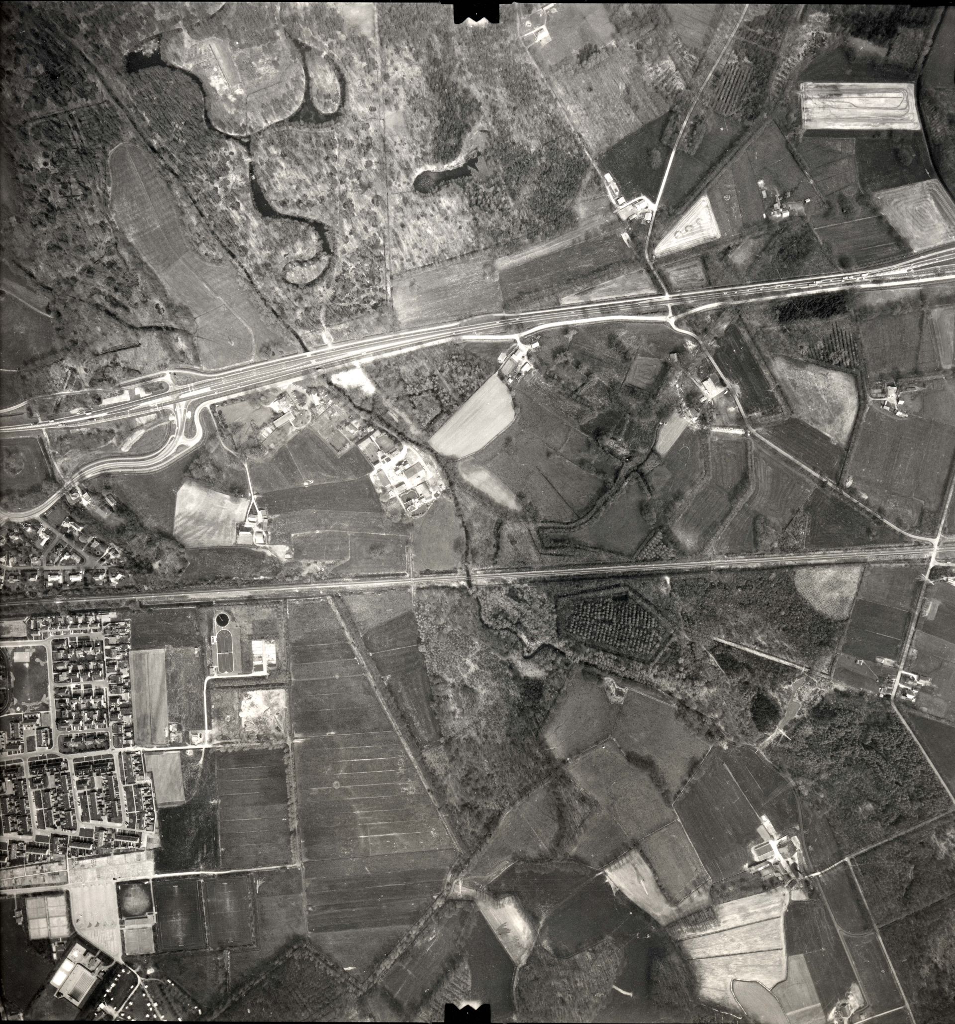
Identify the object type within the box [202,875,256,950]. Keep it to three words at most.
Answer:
sports field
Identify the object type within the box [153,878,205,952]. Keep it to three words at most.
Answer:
sports field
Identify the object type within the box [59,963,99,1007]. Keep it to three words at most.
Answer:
building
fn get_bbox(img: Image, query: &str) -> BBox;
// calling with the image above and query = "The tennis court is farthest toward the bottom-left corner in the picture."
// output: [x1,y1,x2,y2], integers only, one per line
[25,895,67,939]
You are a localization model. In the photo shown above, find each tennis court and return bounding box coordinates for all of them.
[25,895,67,939]
[125,914,153,955]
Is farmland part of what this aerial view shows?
Yes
